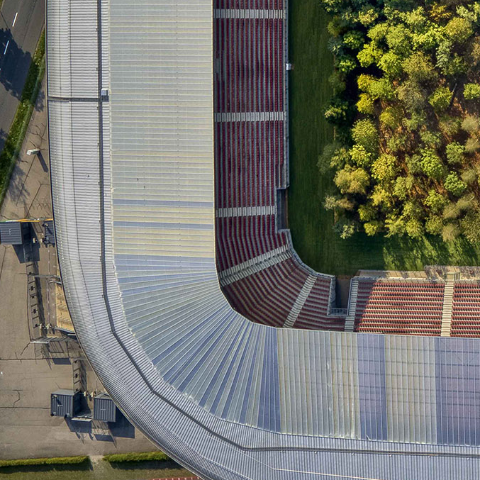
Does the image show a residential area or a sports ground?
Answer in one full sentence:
This image shows a sports ground.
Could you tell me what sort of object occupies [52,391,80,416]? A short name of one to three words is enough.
shed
